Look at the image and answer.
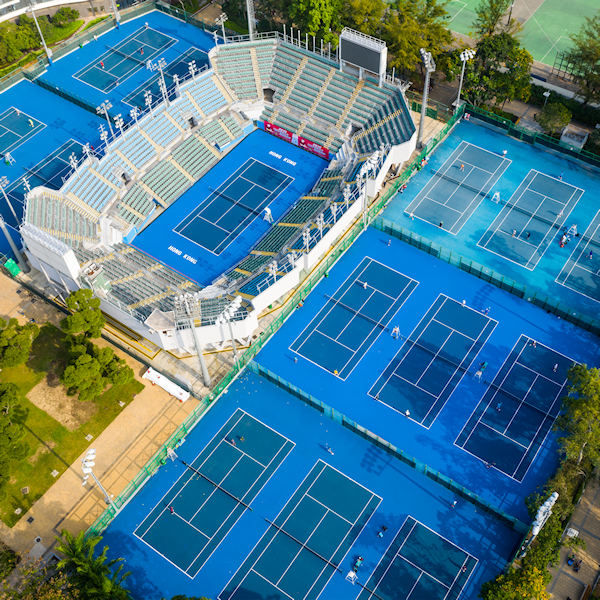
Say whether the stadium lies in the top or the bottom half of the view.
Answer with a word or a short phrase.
top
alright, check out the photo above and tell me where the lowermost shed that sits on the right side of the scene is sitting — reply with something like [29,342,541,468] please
[561,121,593,145]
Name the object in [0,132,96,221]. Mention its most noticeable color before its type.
blue tennis court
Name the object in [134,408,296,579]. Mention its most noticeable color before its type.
blue tennis court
